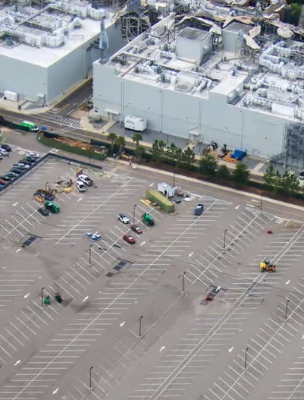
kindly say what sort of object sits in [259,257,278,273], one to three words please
work vehicle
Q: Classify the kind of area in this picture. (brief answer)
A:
parking lot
